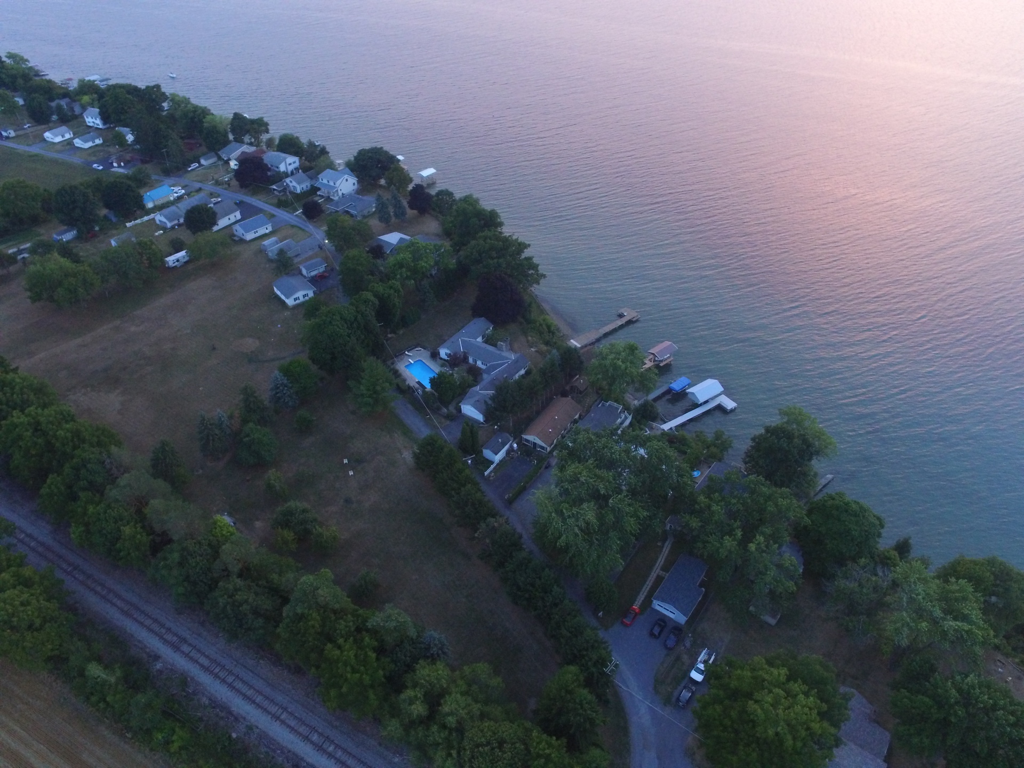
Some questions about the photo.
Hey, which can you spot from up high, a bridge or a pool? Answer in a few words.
pool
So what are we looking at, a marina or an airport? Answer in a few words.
marina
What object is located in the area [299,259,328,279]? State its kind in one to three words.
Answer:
building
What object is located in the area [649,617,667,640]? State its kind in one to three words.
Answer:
car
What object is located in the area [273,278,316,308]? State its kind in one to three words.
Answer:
house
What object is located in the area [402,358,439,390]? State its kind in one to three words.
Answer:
swimming pool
